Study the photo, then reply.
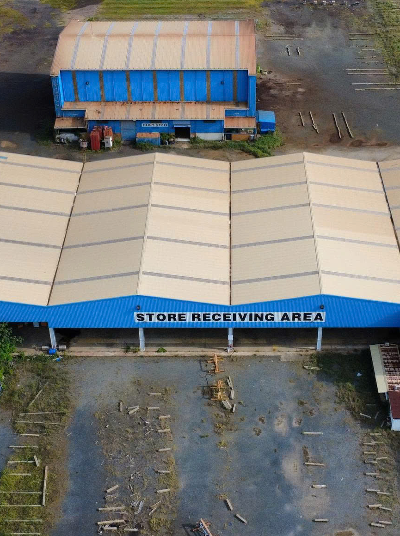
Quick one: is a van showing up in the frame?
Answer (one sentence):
No, no van is visible in the view.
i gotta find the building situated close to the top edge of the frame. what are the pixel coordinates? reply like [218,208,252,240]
[46,18,258,142]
